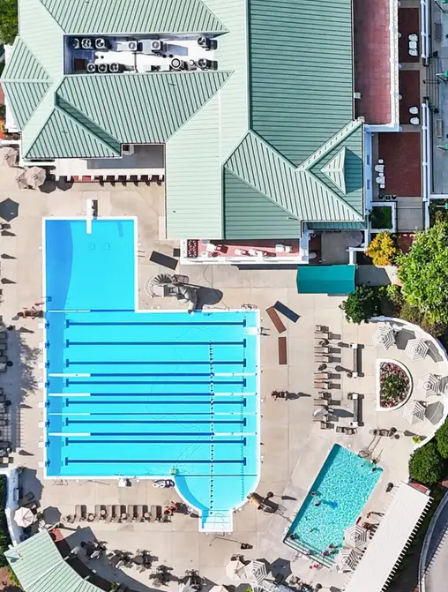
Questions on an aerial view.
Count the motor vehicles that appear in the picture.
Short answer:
0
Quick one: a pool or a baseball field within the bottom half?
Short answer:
pool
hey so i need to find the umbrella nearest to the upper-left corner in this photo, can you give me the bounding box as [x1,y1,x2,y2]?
[0,144,24,169]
